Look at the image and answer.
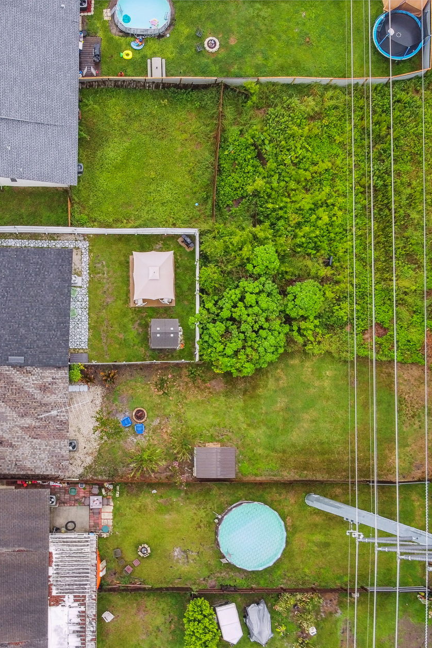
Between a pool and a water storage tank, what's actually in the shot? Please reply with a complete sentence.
This aerial view contains a pool.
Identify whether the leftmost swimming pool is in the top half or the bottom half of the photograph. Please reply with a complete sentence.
The leftmost swimming pool sits in the top half of the picture.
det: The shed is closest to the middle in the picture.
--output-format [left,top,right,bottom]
[152,319,178,350]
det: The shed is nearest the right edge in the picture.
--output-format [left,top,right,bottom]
[194,447,235,478]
